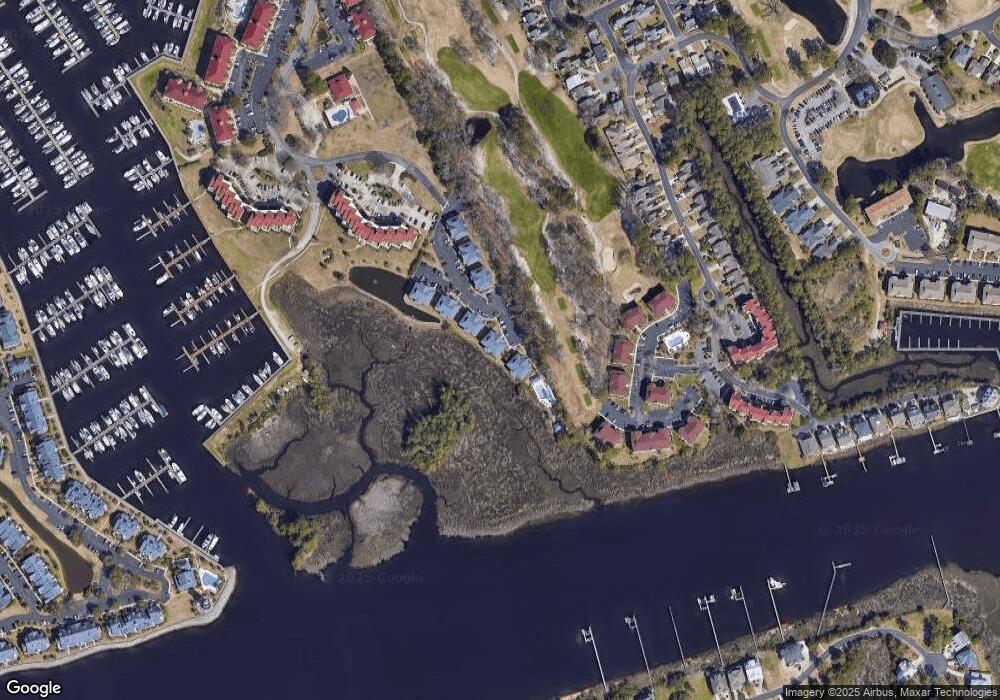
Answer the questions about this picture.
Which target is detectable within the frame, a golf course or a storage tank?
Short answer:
golf course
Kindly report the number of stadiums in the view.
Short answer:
0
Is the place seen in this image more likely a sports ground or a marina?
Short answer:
marina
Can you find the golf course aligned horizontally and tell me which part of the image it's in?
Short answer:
top right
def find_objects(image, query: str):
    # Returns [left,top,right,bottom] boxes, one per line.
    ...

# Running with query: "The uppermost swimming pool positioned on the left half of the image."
[224,0,249,22]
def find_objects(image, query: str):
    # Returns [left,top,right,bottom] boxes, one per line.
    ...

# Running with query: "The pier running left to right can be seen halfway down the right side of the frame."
[895,310,1000,357]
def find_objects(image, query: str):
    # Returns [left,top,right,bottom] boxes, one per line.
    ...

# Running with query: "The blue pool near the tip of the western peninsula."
[196,571,220,592]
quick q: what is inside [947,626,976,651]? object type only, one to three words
house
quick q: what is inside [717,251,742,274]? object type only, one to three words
house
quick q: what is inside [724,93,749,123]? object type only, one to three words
swimming pool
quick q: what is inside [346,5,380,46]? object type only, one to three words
building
